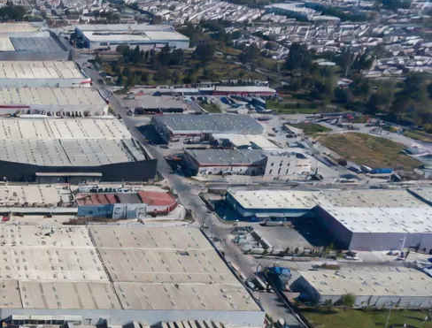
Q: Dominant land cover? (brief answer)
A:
buildings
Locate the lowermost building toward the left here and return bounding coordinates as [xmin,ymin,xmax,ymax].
[0,225,263,328]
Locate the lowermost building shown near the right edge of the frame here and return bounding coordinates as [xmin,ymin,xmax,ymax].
[294,269,432,310]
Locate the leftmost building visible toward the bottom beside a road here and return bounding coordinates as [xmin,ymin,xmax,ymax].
[0,185,77,216]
